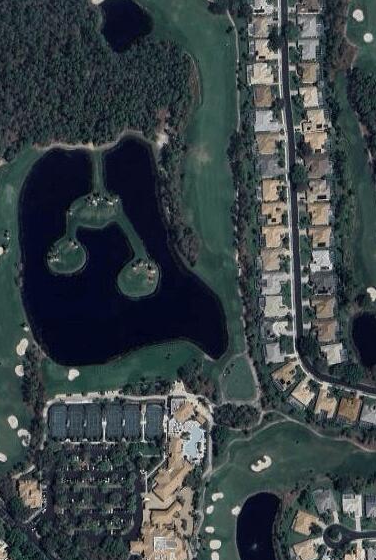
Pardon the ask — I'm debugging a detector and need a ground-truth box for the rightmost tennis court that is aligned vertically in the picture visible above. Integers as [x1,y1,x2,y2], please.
[146,404,162,439]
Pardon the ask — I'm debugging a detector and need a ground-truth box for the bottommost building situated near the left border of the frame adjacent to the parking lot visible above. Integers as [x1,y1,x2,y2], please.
[18,480,41,506]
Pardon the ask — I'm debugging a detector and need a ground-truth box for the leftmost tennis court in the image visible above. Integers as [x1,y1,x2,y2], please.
[48,404,67,439]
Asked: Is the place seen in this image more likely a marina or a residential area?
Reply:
residential area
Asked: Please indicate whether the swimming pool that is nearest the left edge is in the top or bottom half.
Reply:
bottom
